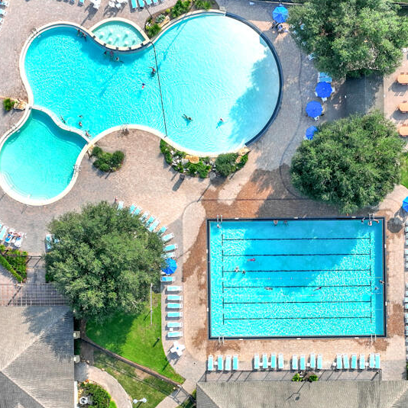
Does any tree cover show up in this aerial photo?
Yes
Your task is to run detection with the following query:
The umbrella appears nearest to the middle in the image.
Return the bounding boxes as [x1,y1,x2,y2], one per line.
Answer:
[161,258,177,274]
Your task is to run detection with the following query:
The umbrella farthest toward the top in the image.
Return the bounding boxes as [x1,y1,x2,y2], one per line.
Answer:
[272,6,288,23]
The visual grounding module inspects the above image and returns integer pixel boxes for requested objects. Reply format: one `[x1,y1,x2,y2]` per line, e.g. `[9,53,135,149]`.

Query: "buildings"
[0,309,78,408]
[197,381,408,408]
